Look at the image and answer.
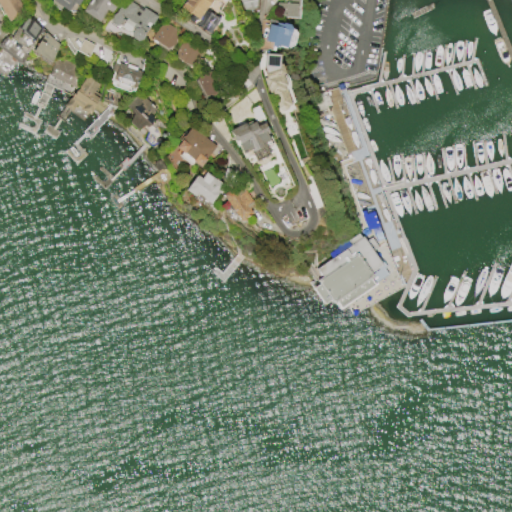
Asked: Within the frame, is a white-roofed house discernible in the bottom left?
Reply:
No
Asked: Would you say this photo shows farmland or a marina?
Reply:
marina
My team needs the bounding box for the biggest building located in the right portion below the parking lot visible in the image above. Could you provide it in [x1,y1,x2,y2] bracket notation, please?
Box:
[312,234,390,309]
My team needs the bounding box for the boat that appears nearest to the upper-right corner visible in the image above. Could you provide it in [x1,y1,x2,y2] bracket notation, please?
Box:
[483,8,497,36]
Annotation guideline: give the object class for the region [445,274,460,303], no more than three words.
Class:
boat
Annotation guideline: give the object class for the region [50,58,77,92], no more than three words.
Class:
house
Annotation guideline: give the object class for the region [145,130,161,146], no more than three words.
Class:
swimming pool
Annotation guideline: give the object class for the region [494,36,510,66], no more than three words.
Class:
boat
